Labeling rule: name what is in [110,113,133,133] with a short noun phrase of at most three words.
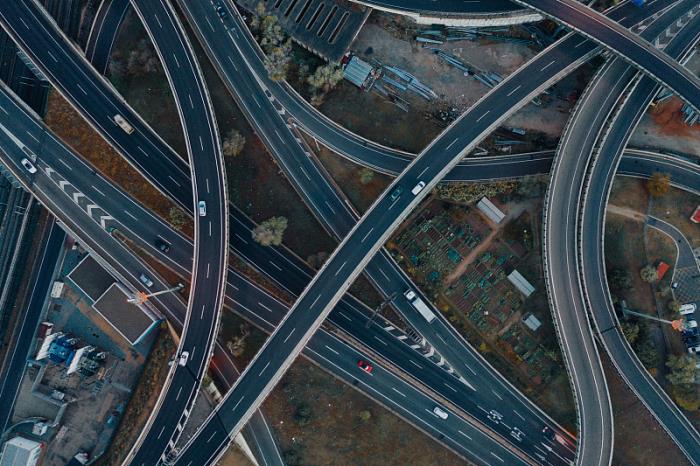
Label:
vehicle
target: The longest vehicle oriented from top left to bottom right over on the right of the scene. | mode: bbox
[405,289,438,323]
